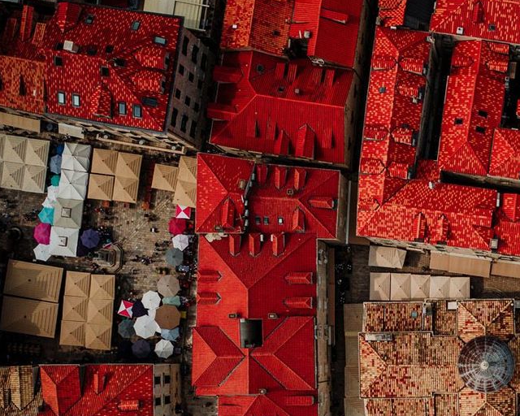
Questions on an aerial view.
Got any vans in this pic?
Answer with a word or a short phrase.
No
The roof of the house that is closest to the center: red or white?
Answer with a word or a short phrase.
red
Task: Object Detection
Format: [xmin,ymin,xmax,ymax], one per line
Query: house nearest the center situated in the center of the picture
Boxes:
[194,151,352,245]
